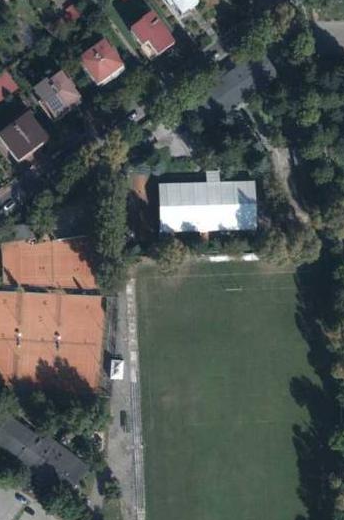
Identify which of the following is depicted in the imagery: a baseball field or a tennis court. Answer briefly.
tennis court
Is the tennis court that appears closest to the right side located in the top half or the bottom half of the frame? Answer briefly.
bottom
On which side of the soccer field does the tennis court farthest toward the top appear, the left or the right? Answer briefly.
left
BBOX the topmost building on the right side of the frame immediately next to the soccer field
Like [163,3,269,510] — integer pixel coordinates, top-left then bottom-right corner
[158,180,258,234]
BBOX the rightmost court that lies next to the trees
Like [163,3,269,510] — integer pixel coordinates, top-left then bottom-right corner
[59,292,105,388]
